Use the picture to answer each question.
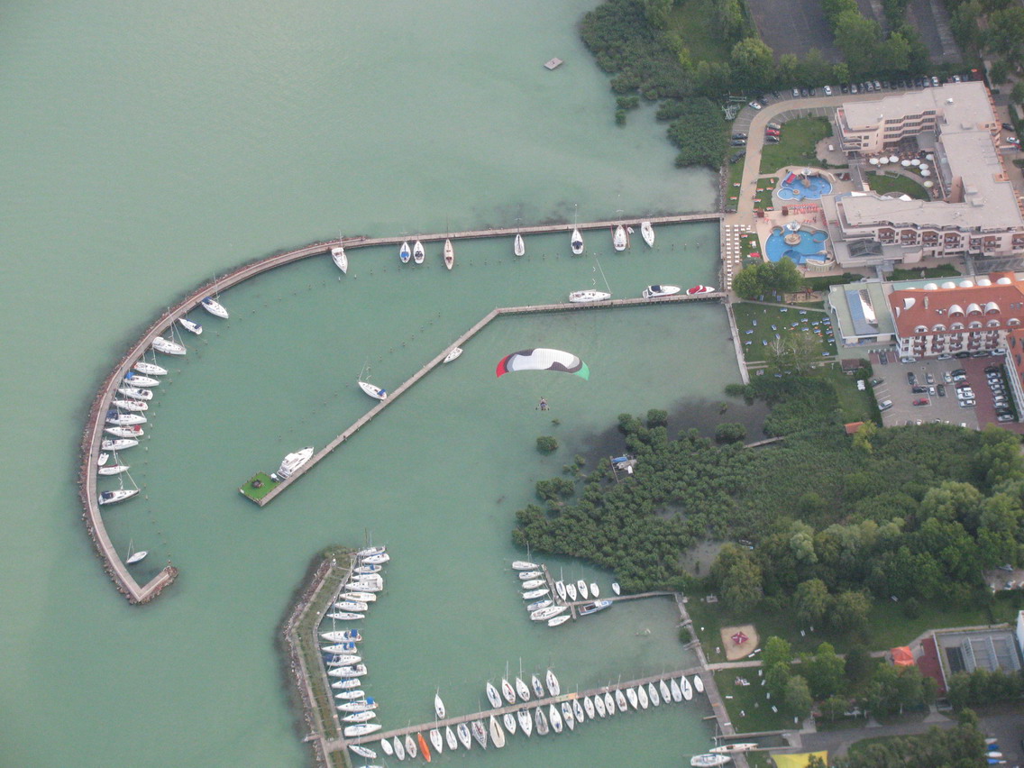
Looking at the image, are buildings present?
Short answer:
Yes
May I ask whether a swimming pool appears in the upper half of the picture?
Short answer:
Yes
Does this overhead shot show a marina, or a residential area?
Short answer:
marina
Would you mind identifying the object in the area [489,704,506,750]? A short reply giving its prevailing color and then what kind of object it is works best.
white boat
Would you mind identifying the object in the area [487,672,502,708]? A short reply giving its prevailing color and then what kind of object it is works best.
white boat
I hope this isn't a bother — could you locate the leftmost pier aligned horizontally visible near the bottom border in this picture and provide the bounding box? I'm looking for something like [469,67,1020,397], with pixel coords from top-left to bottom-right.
[334,665,702,750]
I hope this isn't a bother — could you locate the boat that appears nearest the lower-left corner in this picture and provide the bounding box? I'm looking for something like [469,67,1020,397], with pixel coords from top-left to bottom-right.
[127,544,149,563]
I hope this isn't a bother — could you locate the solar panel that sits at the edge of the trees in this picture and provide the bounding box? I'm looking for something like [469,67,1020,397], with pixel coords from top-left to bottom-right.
[946,646,968,674]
